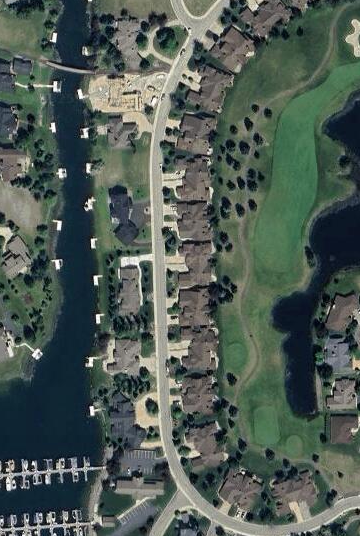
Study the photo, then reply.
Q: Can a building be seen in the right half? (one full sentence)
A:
Yes, I can see a building in the right half.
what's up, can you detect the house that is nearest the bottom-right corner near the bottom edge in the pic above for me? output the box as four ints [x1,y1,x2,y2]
[271,470,319,517]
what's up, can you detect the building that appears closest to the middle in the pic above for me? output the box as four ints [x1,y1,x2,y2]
[178,240,214,286]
